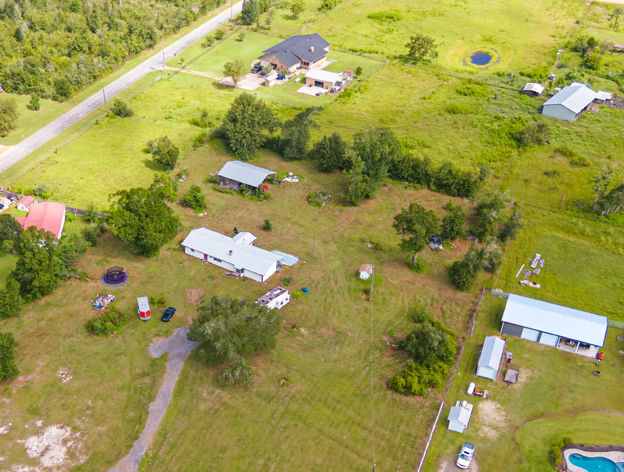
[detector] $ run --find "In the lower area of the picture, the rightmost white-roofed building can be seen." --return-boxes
[500,294,607,360]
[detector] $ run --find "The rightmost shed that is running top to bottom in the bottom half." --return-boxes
[477,335,503,379]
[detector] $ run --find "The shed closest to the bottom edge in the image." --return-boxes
[445,409,470,436]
